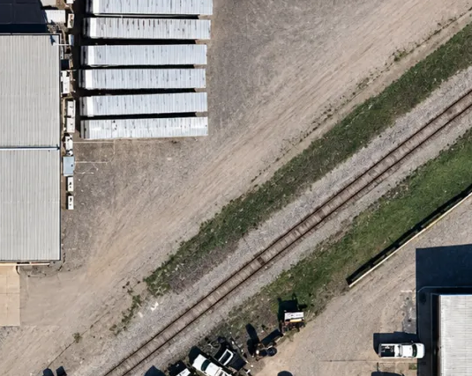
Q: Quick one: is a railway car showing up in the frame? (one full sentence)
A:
No, no railway car is visible in the view.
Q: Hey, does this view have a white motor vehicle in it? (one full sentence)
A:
Yes, you can see a white motor vehicle in this photo.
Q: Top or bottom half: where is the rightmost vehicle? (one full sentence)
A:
The rightmost vehicle sits in the bottom half of the picture.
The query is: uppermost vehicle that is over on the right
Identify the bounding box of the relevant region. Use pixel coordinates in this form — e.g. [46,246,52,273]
[281,308,300,330]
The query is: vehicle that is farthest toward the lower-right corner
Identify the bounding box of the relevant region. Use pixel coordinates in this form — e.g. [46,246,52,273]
[378,341,422,361]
